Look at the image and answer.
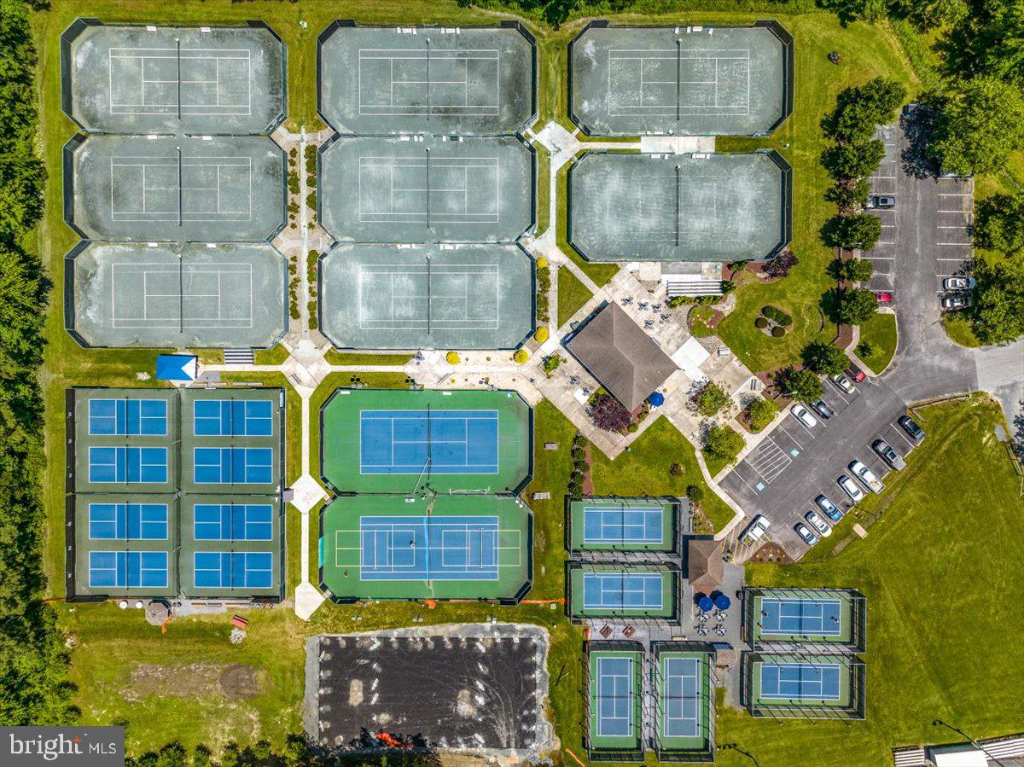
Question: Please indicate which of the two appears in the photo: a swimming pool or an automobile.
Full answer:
Of the two, only an automobile appears.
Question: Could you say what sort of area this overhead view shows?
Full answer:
This looks like a sports ground.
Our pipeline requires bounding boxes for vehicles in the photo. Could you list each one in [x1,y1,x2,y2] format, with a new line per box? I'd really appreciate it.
[791,403,816,428]
[865,195,894,209]
[805,511,831,536]
[816,496,841,520]
[838,476,863,500]
[811,399,834,421]
[841,360,865,384]
[793,522,817,546]
[941,296,971,309]
[944,276,974,289]
[852,463,884,493]
[896,415,922,440]
[740,516,768,546]
[832,372,857,396]
[874,440,906,471]
[874,293,892,304]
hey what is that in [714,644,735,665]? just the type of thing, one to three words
shed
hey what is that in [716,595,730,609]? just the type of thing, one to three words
umbrella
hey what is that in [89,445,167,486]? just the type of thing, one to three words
sports court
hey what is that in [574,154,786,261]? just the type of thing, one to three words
tennis court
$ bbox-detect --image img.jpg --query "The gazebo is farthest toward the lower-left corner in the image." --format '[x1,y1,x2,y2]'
[146,599,175,625]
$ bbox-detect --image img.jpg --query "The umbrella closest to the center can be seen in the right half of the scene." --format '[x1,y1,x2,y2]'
[648,391,663,406]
